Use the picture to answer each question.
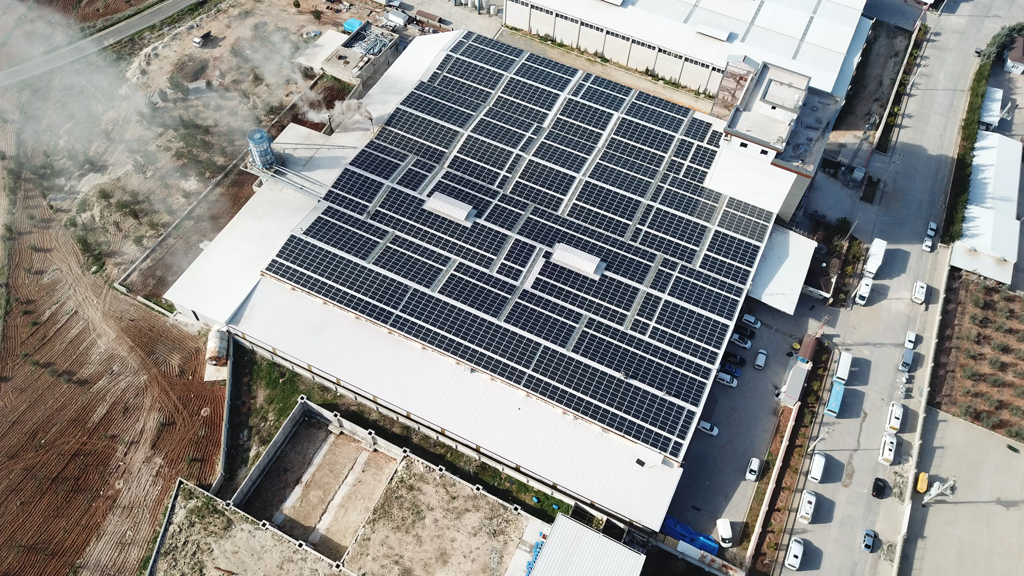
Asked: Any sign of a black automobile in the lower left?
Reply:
No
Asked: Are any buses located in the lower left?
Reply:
No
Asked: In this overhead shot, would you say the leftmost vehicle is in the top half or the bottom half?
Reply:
top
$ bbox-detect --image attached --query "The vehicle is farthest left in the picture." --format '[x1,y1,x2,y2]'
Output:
[191,28,215,48]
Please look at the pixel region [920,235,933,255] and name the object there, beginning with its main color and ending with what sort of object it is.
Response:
white vehicle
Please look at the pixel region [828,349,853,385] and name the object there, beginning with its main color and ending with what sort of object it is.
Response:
white bus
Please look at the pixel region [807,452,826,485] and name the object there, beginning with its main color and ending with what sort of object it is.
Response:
white vehicle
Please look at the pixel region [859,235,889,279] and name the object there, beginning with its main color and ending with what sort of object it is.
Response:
white truck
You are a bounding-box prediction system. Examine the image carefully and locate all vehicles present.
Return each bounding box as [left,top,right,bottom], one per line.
[753,349,768,371]
[876,432,897,468]
[380,17,399,32]
[807,452,826,485]
[902,328,919,348]
[733,324,757,342]
[855,275,876,307]
[739,311,763,331]
[920,235,933,255]
[729,334,752,351]
[744,456,762,484]
[715,516,734,549]
[897,346,916,374]
[722,351,747,369]
[695,420,720,438]
[782,534,805,576]
[820,382,846,423]
[191,28,215,48]
[859,526,876,556]
[972,47,982,59]
[910,280,928,306]
[714,370,739,389]
[884,401,904,436]
[828,349,853,385]
[869,475,887,503]
[859,235,889,279]
[796,488,817,528]
[718,362,742,379]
